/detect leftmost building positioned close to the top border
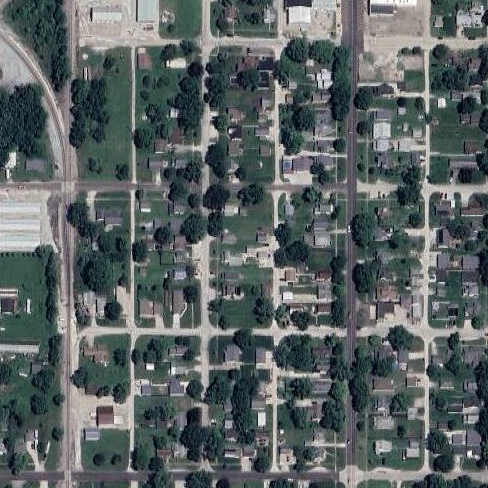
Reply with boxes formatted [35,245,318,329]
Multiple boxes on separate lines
[91,7,122,24]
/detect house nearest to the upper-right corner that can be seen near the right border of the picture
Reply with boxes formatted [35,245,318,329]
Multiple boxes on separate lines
[457,9,485,31]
